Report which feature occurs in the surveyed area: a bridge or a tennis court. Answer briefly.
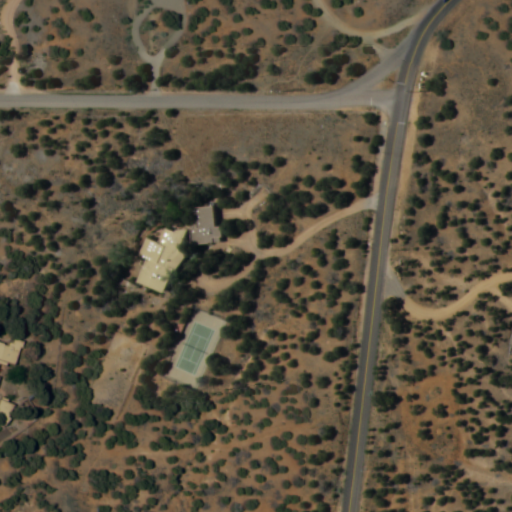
tennis court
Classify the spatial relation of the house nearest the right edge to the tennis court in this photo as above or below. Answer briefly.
above it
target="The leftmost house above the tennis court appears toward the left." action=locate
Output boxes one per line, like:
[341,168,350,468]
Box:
[136,228,186,294]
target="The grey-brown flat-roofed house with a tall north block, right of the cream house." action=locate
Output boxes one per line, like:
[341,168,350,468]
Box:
[191,206,221,244]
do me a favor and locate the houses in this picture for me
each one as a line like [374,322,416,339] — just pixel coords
[191,206,221,244]
[136,228,186,294]
[0,397,15,426]
[0,340,24,366]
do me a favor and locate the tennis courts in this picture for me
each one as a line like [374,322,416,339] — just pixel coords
[171,311,226,388]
